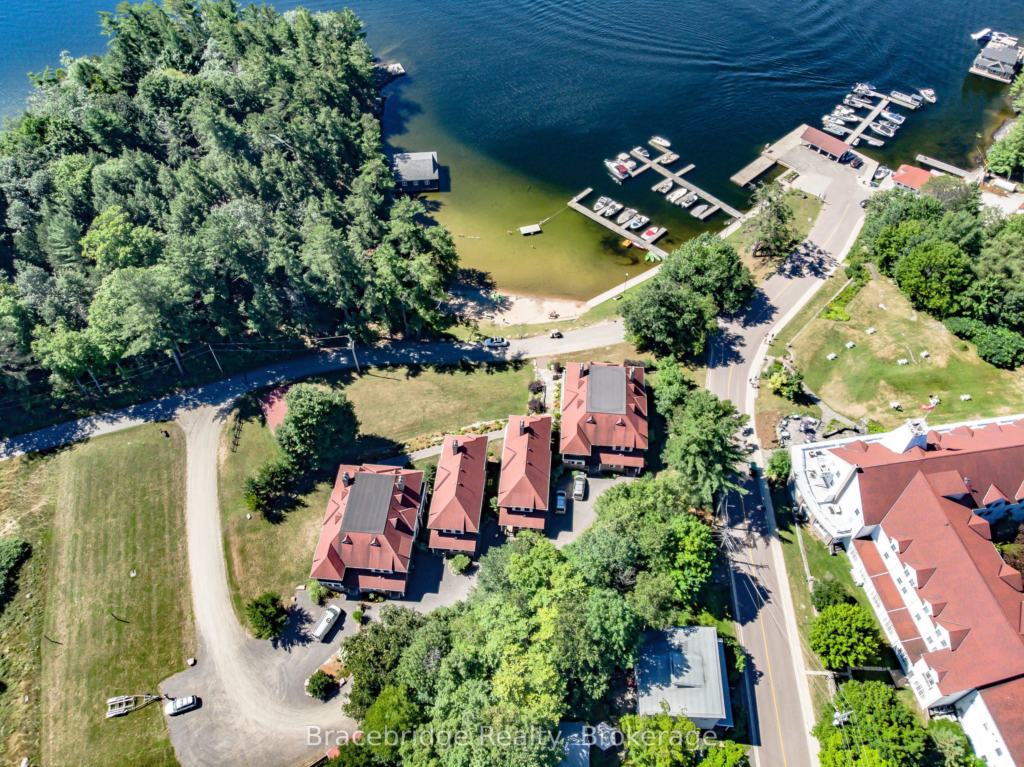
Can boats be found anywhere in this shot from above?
Yes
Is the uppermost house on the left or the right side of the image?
right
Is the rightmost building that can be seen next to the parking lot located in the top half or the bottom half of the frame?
bottom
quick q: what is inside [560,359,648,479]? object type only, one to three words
house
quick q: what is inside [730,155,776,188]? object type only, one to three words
pier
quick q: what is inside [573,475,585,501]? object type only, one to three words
vehicle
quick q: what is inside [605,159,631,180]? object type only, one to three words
boat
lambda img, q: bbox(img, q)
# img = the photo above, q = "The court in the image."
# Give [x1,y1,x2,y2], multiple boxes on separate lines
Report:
[259,385,311,438]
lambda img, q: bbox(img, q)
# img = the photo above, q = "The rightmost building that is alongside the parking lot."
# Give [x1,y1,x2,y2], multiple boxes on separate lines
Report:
[790,400,1024,767]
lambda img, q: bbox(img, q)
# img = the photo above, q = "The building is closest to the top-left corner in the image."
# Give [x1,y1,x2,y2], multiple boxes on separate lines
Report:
[393,152,440,193]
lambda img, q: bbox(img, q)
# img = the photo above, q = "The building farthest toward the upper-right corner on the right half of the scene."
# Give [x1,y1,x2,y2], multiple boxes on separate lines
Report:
[969,38,1024,83]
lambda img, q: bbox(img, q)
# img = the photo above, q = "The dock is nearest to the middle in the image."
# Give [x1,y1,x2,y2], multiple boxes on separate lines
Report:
[567,188,670,259]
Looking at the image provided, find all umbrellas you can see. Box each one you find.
[804,431,818,443]
[798,418,812,431]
